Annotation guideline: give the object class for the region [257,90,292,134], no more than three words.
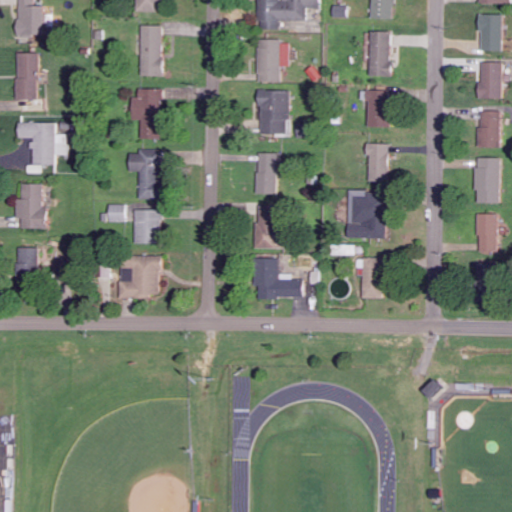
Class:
house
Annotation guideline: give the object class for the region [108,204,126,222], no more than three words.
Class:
shed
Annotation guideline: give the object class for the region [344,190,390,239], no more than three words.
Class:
house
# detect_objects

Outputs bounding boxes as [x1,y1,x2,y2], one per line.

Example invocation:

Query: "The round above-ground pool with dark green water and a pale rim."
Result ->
[330,276,350,300]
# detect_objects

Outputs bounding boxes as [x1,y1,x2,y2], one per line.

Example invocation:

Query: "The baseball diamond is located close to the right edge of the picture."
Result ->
[436,394,512,512]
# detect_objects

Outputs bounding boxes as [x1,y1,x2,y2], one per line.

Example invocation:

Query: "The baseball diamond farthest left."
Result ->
[52,397,194,512]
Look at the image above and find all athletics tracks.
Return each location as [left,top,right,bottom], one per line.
[232,376,397,512]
